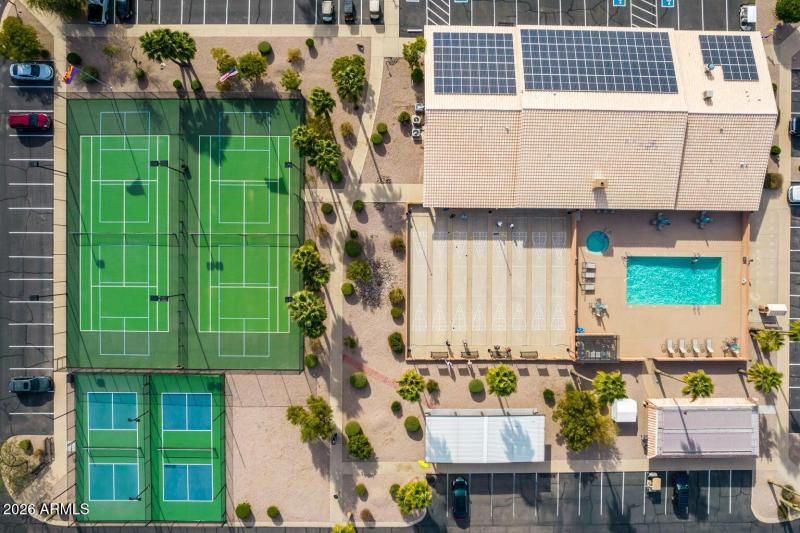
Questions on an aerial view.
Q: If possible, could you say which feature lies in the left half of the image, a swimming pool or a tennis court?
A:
tennis court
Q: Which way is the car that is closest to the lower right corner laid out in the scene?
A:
from top to bottom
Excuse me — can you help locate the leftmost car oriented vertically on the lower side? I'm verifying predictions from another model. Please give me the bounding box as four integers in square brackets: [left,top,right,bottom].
[452,476,470,517]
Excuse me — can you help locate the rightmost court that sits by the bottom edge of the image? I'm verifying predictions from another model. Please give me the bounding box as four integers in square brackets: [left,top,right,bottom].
[151,374,225,521]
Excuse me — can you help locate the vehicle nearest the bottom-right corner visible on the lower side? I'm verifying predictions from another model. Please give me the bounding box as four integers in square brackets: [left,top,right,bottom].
[670,471,691,516]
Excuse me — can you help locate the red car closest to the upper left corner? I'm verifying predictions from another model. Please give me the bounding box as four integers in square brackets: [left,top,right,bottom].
[11,113,52,131]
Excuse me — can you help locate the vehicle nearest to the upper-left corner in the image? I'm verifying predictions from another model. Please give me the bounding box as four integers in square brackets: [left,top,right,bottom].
[12,63,55,81]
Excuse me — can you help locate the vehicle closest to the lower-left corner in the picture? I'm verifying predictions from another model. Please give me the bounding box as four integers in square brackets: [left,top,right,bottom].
[11,375,54,393]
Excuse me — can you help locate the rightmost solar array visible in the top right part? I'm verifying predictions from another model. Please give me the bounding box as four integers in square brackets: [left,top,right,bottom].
[700,34,757,80]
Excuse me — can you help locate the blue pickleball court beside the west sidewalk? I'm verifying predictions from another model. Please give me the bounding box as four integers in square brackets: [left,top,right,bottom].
[76,374,150,521]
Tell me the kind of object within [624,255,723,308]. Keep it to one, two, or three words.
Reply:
swimming pool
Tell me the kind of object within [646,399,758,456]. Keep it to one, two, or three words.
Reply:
building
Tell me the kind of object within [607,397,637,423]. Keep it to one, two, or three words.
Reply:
shed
